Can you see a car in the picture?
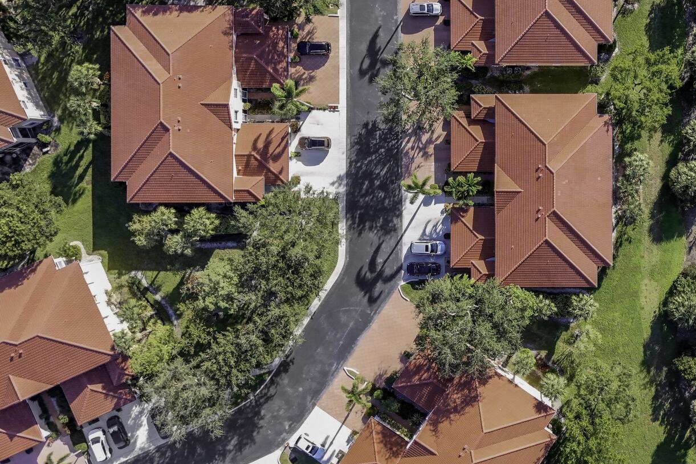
Yes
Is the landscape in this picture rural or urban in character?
urban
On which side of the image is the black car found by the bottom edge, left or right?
left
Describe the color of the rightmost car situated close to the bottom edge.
white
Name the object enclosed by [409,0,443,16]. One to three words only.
car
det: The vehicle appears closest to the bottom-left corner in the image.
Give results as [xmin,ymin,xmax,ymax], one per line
[90,428,111,462]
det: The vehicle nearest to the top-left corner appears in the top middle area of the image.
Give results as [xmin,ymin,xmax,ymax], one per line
[297,40,330,56]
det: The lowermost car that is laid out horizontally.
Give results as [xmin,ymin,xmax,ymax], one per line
[407,262,440,278]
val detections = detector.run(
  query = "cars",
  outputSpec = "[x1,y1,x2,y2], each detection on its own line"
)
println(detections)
[409,0,443,16]
[407,262,440,278]
[90,428,111,462]
[297,40,330,56]
[108,415,129,448]
[411,239,445,256]
[294,434,326,460]
[298,136,331,151]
